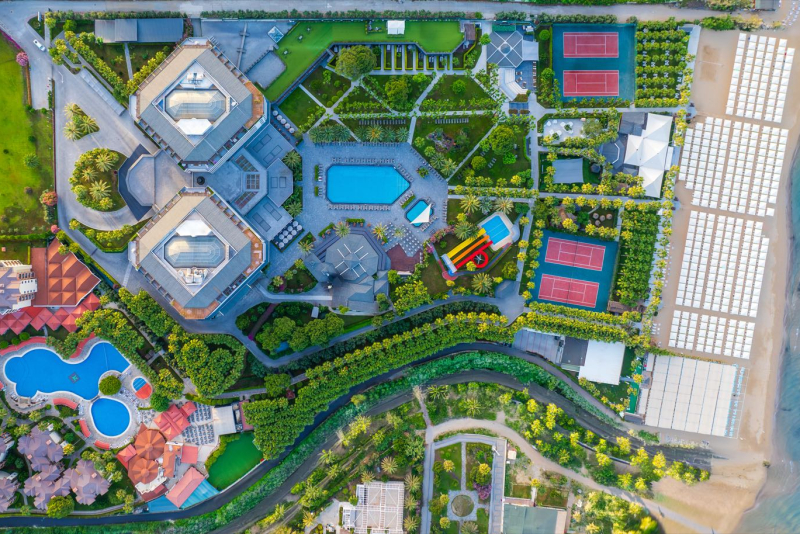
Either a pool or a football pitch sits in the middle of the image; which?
pool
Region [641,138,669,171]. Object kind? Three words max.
tent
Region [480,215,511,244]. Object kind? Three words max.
swimming pool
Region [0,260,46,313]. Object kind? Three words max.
house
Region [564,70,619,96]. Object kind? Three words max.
tennis court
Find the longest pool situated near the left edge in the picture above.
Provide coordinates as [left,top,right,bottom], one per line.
[2,340,132,402]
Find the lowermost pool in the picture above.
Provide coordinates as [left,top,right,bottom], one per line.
[89,396,133,438]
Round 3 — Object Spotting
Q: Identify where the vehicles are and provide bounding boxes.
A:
[36,11,41,21]
[31,38,45,52]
